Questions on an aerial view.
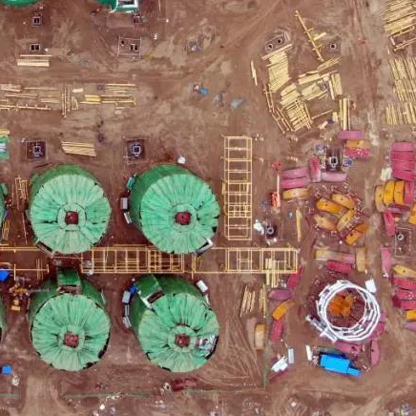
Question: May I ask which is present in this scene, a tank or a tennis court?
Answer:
tank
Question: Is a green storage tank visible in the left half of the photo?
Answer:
Yes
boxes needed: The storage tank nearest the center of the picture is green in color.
[121,165,221,256]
